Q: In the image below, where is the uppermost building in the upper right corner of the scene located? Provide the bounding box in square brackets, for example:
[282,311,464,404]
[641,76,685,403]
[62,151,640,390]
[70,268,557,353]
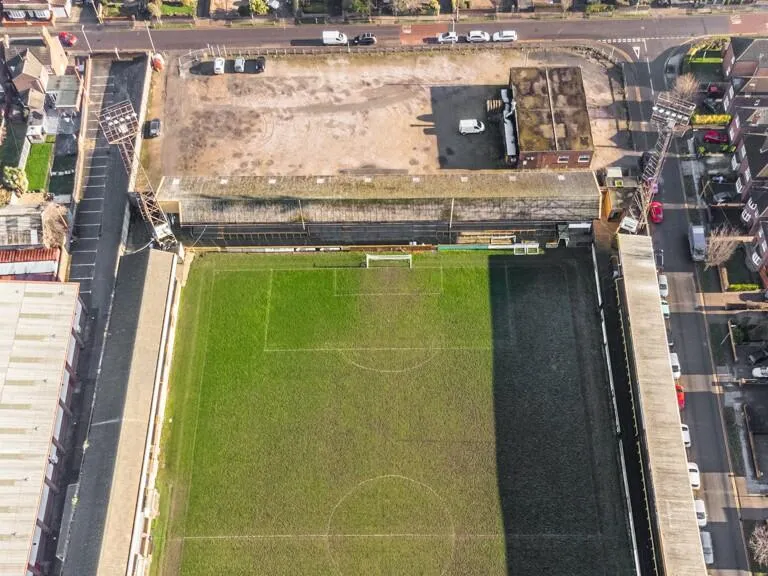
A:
[723,33,768,88]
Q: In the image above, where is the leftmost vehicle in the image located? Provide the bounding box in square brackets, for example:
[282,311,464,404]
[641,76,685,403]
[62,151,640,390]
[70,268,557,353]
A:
[60,33,78,48]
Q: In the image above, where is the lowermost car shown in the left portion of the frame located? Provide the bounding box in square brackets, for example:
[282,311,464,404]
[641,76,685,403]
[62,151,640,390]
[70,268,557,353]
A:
[148,122,160,138]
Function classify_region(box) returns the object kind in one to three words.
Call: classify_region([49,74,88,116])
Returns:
building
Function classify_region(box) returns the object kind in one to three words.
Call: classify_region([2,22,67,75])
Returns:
house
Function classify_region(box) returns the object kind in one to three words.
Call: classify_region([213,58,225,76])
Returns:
vehicle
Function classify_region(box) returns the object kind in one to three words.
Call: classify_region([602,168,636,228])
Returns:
shed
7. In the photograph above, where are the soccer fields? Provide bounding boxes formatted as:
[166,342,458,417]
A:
[147,246,638,576]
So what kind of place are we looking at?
sports ground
